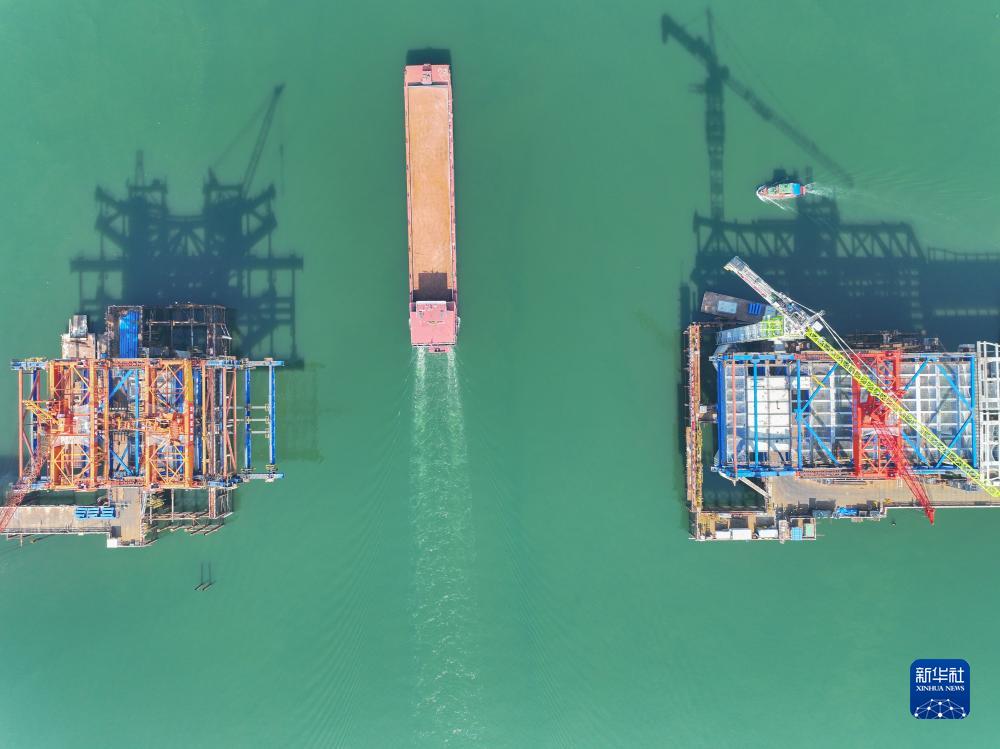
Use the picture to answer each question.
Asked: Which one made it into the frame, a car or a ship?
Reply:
ship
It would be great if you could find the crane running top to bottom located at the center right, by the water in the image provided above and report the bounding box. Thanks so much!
[845,352,934,521]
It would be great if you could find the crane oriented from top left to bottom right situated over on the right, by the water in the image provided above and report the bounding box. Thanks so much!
[706,253,1000,502]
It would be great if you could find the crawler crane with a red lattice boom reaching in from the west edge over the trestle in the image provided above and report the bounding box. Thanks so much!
[0,437,49,520]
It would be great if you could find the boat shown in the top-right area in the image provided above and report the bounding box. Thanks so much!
[757,184,806,200]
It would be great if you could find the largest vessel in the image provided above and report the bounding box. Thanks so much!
[404,66,461,354]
